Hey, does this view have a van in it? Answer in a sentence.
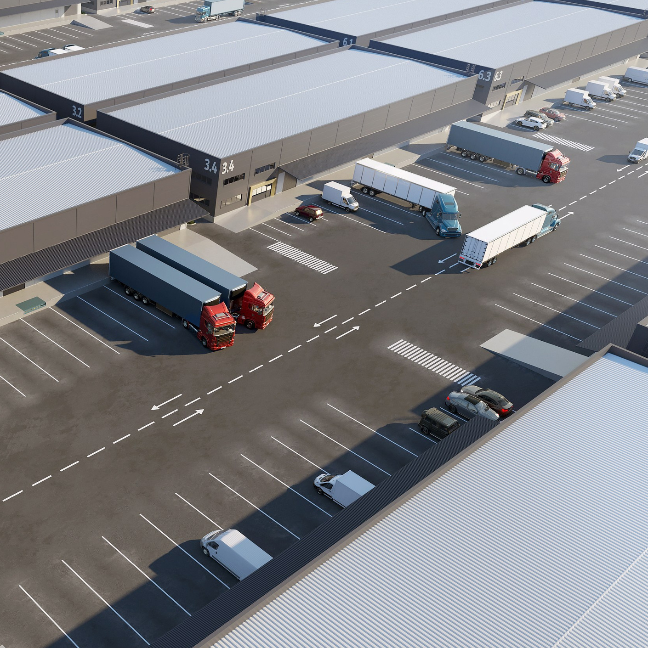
Yes, there's a van here.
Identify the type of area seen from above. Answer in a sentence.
This looks like an industrial area.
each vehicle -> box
[321,180,362,213]
[140,5,157,13]
[109,245,233,350]
[457,385,516,417]
[538,106,568,122]
[516,118,549,131]
[416,411,456,441]
[136,236,272,327]
[564,87,600,110]
[198,0,249,22]
[461,202,562,269]
[625,67,648,85]
[586,79,619,102]
[293,205,325,222]
[626,137,648,163]
[352,159,472,236]
[200,530,272,580]
[445,393,502,424]
[317,471,377,509]
[448,121,573,184]
[599,76,630,98]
